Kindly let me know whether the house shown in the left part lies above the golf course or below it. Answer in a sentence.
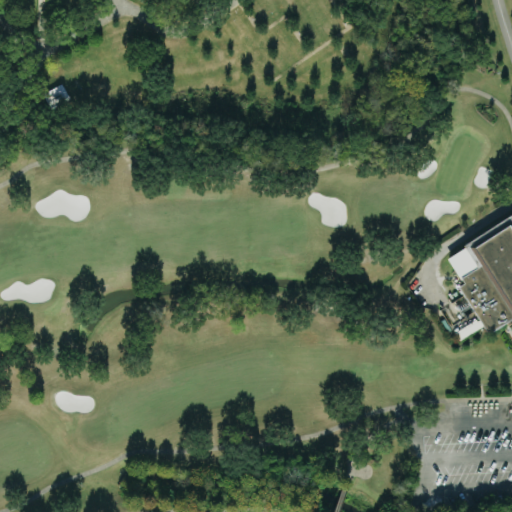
The house shown in the left part appears above the golf course in the picture.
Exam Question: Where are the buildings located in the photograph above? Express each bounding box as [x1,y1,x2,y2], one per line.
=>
[50,84,69,112]
[449,217,512,334]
